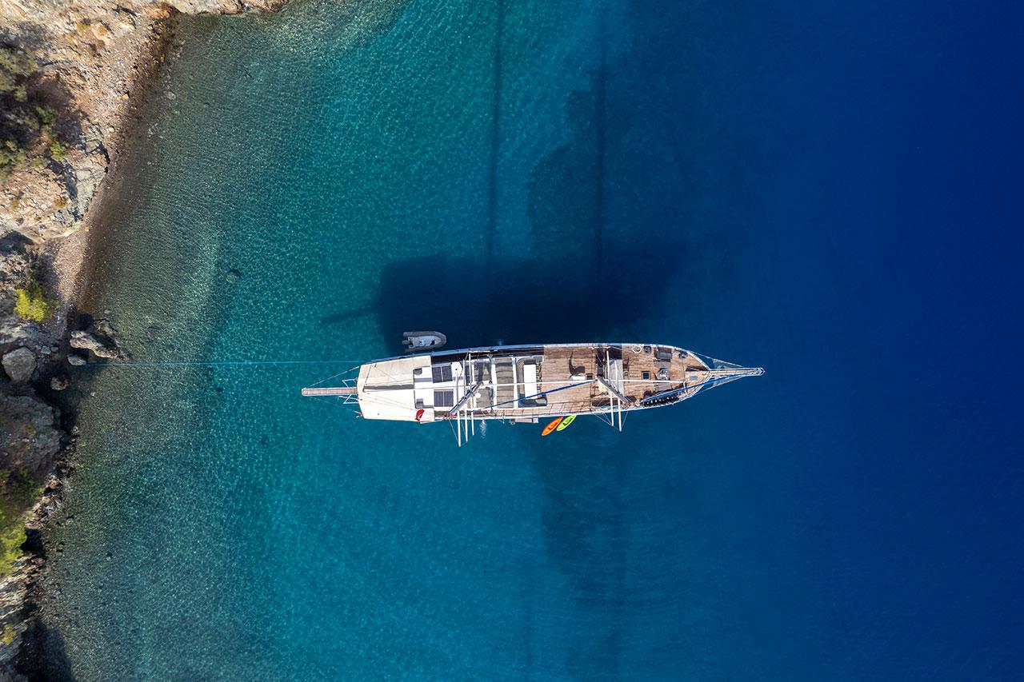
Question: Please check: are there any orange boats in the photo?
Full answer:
Yes, there's an orange boat here.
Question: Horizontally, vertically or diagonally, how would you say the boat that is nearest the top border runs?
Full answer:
In this picture, the boat that is nearest the top border lies horizontally.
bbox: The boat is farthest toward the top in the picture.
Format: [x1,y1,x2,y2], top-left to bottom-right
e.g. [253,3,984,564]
[402,330,447,354]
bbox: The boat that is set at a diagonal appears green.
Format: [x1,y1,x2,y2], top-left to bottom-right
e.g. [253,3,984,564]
[557,416,576,431]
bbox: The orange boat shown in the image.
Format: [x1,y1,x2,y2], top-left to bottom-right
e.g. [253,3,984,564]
[542,417,563,435]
